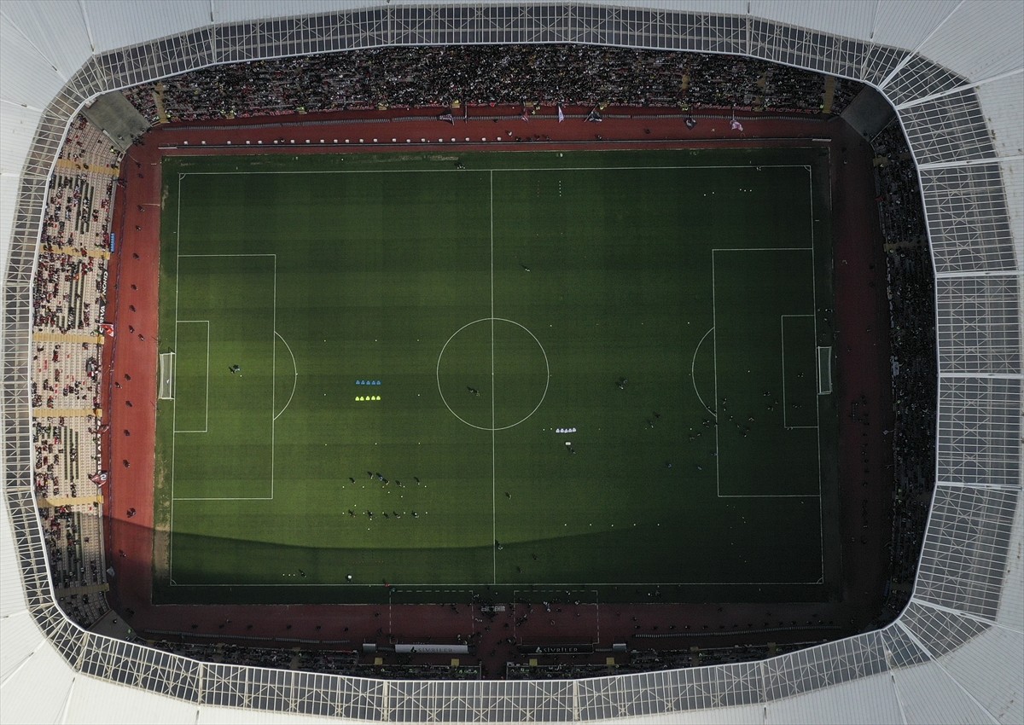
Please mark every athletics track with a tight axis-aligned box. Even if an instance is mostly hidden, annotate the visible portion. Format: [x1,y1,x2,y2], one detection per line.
[107,109,889,679]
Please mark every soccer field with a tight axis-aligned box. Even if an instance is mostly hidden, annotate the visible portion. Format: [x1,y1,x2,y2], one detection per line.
[151,146,844,642]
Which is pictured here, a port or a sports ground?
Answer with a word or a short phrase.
sports ground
